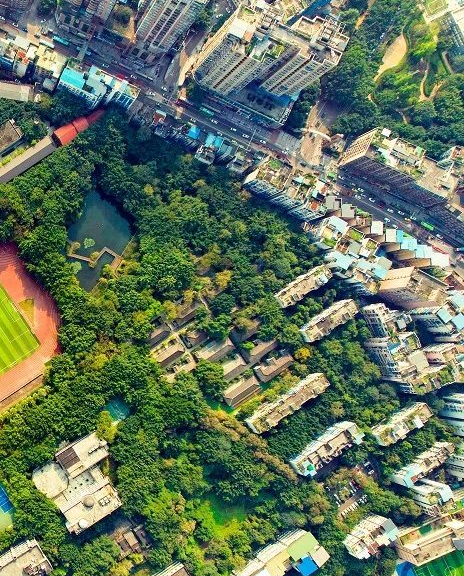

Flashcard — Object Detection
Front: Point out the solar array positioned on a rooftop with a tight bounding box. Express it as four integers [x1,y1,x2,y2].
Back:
[57,447,80,470]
